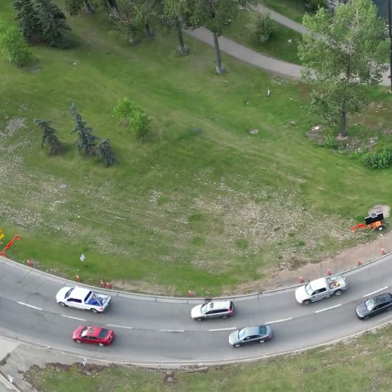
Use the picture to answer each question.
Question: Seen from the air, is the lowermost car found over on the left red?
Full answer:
Yes, the lowermost car found over on the left is indeed red.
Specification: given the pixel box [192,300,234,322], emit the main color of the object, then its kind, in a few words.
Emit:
white car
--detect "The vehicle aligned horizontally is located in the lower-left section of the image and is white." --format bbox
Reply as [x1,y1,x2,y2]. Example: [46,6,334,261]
[58,288,112,315]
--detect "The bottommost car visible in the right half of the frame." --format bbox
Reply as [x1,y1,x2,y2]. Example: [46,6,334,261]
[230,325,273,349]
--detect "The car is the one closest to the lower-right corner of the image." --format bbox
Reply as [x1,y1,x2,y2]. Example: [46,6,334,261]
[354,292,392,322]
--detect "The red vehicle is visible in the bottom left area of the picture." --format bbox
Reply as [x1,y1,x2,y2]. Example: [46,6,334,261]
[72,325,117,348]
